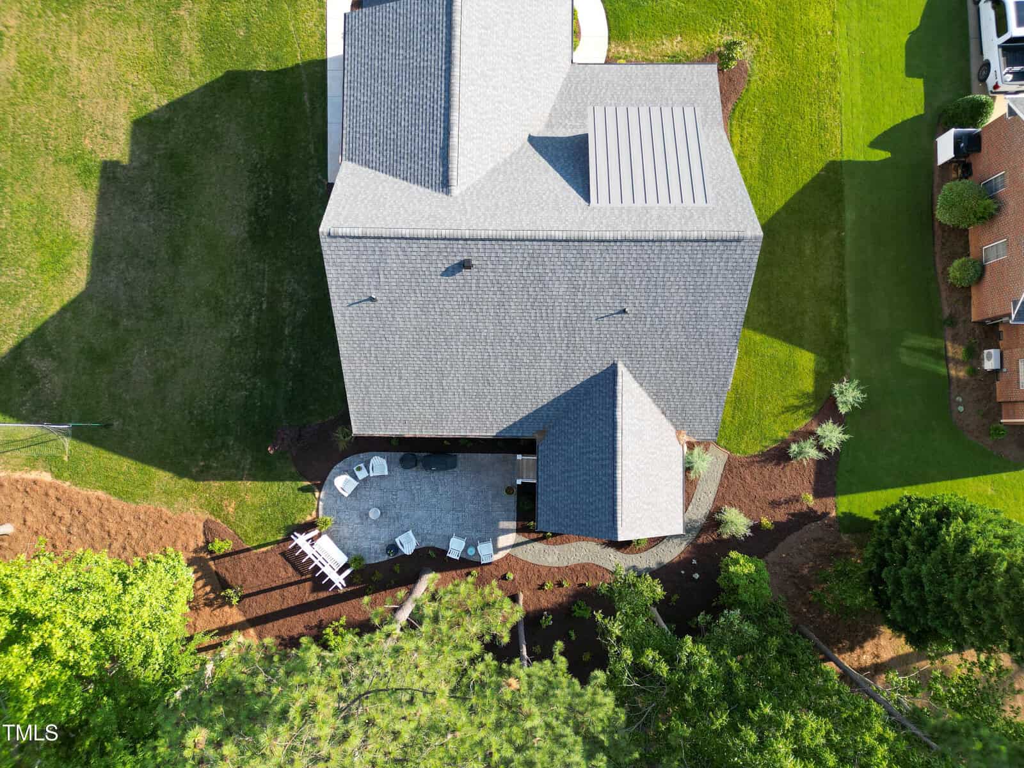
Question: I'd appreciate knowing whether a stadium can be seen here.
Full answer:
No, the scene contains no stadium.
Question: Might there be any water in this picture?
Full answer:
No, there is no water in the image.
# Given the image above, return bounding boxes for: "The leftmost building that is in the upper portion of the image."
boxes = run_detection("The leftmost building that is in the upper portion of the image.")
[320,0,762,542]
